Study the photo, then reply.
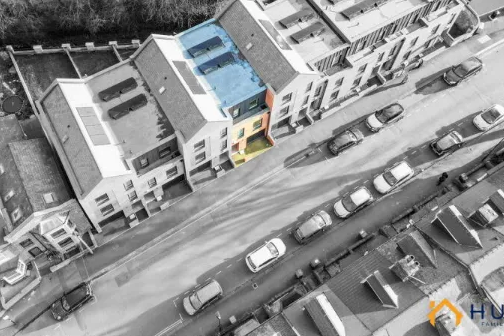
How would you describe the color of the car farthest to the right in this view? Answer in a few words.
white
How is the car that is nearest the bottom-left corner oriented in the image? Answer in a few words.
at an angle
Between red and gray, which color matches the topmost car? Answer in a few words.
gray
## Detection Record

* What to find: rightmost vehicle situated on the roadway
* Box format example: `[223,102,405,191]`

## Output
[472,103,504,130]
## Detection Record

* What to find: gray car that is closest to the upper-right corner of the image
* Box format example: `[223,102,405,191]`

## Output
[444,58,483,86]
